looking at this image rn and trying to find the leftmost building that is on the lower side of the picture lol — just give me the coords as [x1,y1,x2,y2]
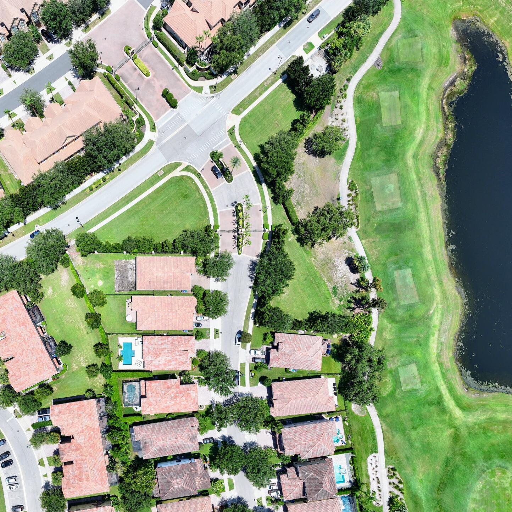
[0,290,60,392]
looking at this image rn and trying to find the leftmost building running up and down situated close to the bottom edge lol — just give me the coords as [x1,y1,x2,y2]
[51,399,109,497]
